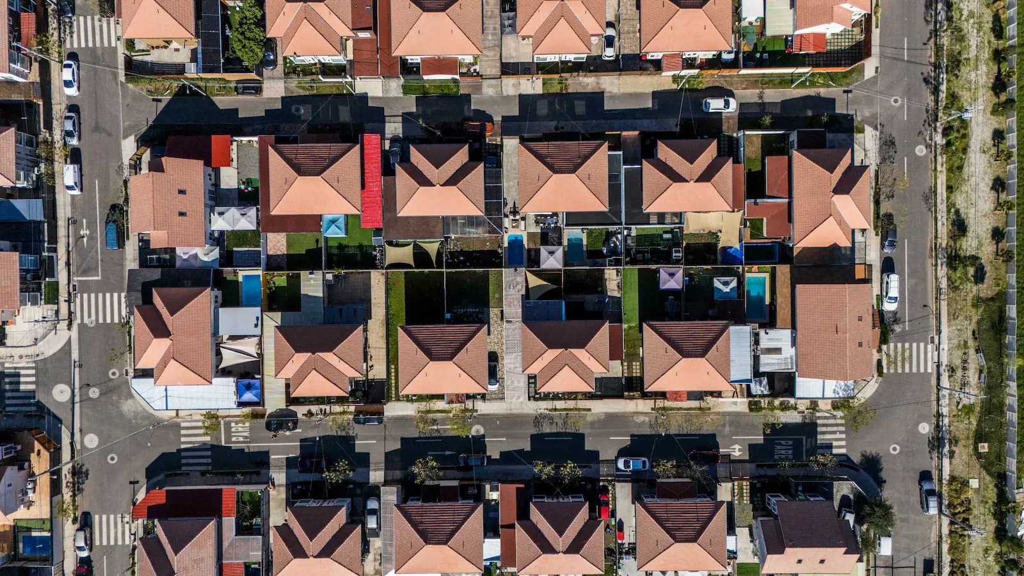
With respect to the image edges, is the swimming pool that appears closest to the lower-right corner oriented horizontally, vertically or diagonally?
vertically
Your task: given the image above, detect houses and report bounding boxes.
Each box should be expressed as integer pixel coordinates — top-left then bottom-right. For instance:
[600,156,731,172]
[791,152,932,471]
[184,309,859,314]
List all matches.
[633,492,727,573]
[787,283,873,383]
[0,125,40,188]
[121,0,200,49]
[518,140,609,214]
[0,0,36,83]
[520,319,611,394]
[395,142,485,217]
[393,495,484,576]
[397,323,488,396]
[0,251,45,312]
[269,143,361,215]
[271,495,366,576]
[751,490,871,576]
[515,492,605,575]
[784,0,872,37]
[265,0,360,67]
[643,138,733,213]
[638,320,733,393]
[133,286,226,387]
[392,0,482,66]
[780,147,872,248]
[136,514,222,576]
[273,324,368,398]
[129,152,220,250]
[517,0,607,64]
[638,0,732,62]
[0,445,25,523]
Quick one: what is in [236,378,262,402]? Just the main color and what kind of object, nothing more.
blue gazebo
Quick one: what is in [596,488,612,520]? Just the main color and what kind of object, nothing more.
red car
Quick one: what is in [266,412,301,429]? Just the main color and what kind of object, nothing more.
black car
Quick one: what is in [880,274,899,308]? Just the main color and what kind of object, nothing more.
white car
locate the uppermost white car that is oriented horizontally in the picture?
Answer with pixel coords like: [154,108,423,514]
[702,95,736,113]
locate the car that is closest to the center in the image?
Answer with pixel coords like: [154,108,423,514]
[488,354,502,388]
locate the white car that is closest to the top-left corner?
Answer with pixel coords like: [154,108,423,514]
[63,61,83,97]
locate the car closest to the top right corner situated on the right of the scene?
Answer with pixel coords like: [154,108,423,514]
[879,222,898,257]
